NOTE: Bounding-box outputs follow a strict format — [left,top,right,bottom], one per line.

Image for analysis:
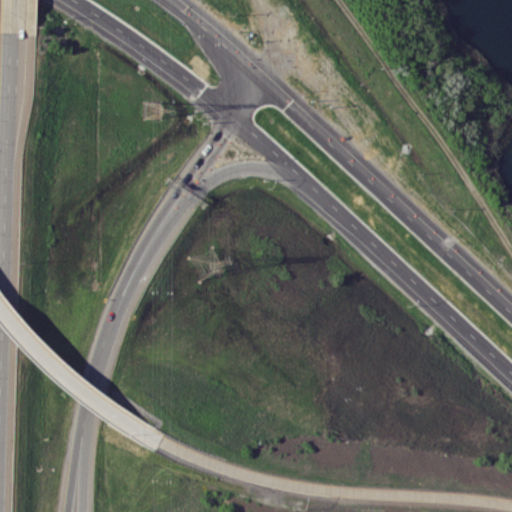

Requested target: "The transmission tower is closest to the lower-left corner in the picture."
[188,246,233,284]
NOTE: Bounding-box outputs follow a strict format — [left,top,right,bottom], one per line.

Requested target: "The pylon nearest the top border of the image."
[142,101,177,122]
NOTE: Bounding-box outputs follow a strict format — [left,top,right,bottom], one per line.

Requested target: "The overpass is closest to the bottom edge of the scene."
[0,290,165,451]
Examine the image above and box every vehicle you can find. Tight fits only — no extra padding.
[182,172,194,186]
[194,156,206,169]
[18,28,25,40]
[212,130,223,142]
[201,143,214,158]
[106,310,114,323]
